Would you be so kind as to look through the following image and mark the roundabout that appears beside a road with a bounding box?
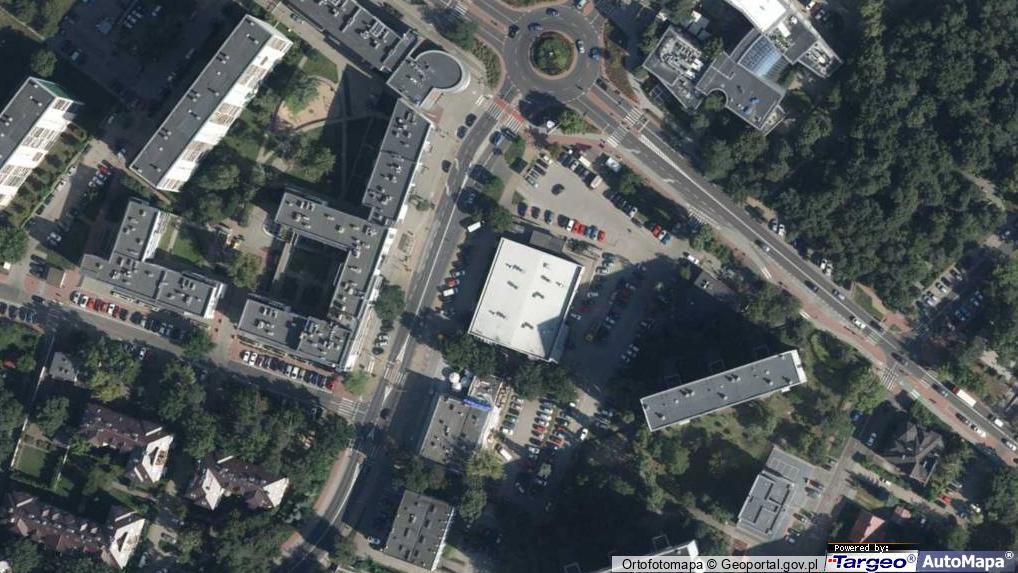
[504,5,602,103]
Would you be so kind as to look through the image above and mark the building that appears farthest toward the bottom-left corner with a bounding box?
[5,491,149,570]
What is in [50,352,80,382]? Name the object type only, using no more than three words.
house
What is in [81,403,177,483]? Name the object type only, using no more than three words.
house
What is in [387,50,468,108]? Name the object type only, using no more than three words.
building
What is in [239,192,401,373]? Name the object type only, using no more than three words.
building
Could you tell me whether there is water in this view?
No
